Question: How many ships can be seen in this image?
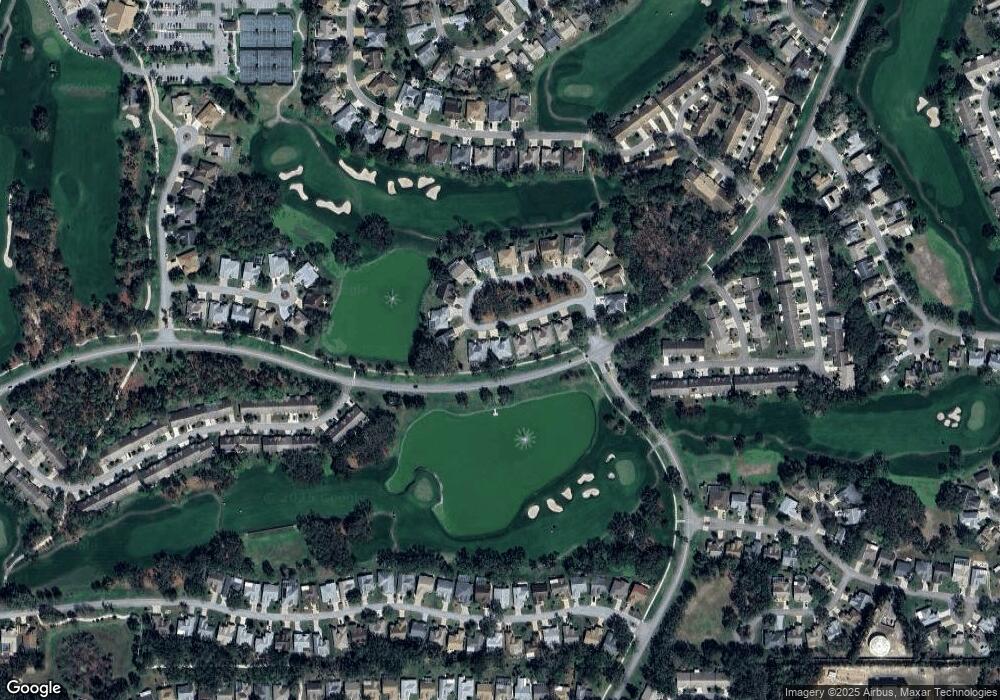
0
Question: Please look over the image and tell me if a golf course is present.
Yes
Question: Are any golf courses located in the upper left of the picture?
Yes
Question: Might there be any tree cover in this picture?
Yes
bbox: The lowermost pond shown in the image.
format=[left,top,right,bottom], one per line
[386,389,599,538]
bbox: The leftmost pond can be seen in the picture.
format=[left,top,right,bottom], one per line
[322,246,432,362]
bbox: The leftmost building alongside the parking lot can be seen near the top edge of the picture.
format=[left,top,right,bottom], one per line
[103,0,140,35]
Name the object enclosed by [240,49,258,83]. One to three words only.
tennis court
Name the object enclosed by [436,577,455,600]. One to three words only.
house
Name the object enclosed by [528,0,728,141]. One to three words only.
golf course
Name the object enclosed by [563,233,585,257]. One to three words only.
house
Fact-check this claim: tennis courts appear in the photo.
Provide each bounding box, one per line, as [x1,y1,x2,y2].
[240,15,258,48]
[275,15,293,48]
[240,49,258,83]
[275,49,293,83]
[258,15,275,48]
[258,49,275,83]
